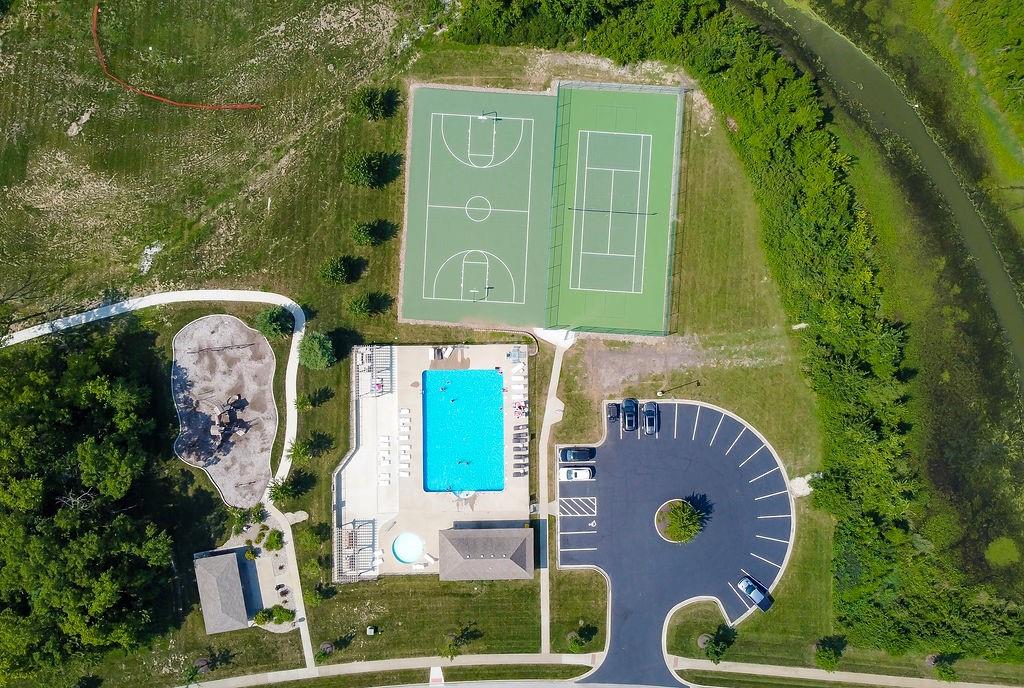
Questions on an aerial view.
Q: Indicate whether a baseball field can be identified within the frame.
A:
No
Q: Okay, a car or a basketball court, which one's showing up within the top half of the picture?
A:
basketball court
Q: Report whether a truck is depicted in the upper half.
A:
No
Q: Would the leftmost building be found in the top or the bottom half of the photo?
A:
bottom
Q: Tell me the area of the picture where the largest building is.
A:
bottom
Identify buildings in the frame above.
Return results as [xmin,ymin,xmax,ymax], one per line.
[440,527,534,581]
[194,550,253,634]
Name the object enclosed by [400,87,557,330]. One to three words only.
basketball court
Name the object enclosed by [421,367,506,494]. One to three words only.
swimming pool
